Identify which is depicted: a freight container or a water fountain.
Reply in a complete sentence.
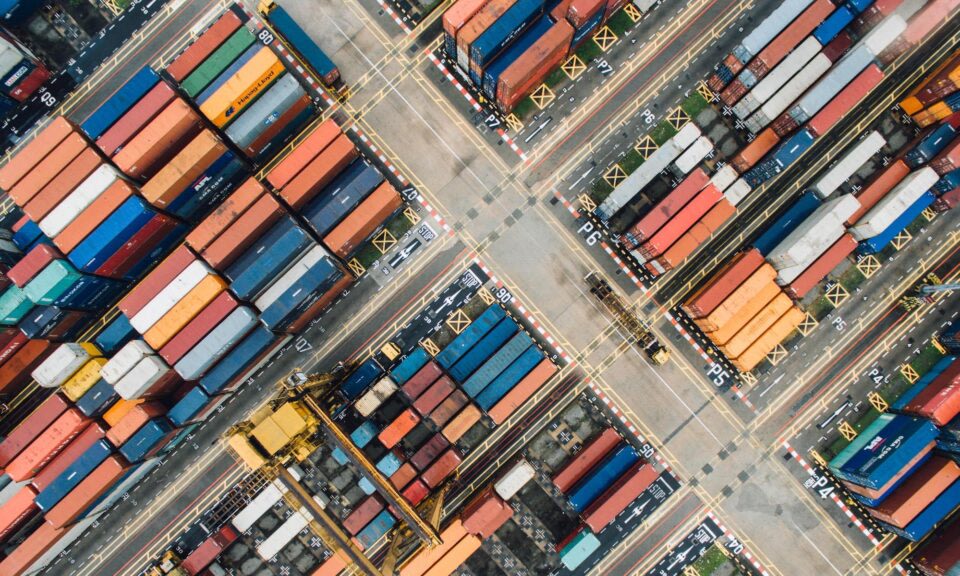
This aerial view contains a freight container.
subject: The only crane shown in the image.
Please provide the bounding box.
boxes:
[213,361,453,576]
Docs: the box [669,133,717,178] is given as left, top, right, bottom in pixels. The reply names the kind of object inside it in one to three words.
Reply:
shipping container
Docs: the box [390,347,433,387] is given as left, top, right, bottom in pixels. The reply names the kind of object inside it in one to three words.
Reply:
shipping container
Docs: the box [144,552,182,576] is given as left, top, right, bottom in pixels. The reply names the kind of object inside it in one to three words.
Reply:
truck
